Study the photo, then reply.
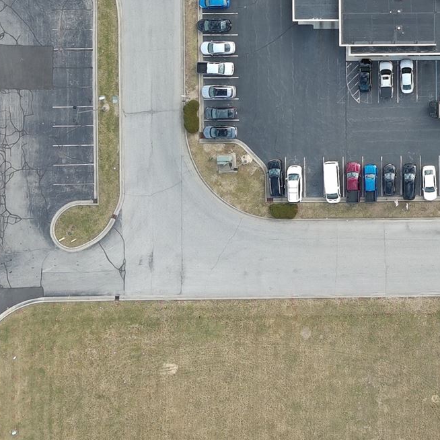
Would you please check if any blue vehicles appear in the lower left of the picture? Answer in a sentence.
No, I see no blue vehicle in the lower left of the picture.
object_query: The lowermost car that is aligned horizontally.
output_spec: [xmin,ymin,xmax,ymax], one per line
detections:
[203,124,239,141]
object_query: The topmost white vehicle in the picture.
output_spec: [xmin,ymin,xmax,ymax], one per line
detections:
[201,40,237,57]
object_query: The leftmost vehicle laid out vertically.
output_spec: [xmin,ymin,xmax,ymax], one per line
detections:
[265,160,284,199]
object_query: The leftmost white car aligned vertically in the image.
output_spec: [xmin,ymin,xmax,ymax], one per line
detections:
[285,164,303,202]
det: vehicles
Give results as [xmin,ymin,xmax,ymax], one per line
[381,163,397,196]
[200,0,232,11]
[421,164,439,201]
[203,124,239,141]
[322,160,342,203]
[427,103,440,123]
[202,84,238,101]
[380,60,394,98]
[362,163,378,203]
[198,60,235,77]
[198,18,233,34]
[206,105,239,122]
[401,162,418,201]
[265,160,284,199]
[201,40,237,57]
[285,164,303,202]
[344,161,362,203]
[400,59,415,95]
[357,59,374,95]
